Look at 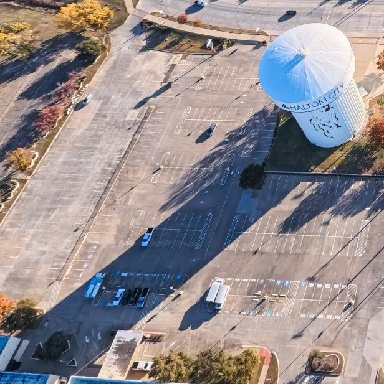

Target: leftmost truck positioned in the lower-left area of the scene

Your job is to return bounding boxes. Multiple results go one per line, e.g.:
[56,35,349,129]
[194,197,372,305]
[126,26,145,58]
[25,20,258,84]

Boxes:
[77,271,106,300]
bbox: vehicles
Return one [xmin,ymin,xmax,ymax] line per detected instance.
[207,123,216,135]
[212,279,231,310]
[140,228,153,247]
[193,0,208,8]
[121,289,132,307]
[84,93,95,105]
[128,288,140,307]
[137,286,151,308]
[200,277,223,306]
[112,288,125,307]
[77,271,106,300]
[130,361,153,370]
